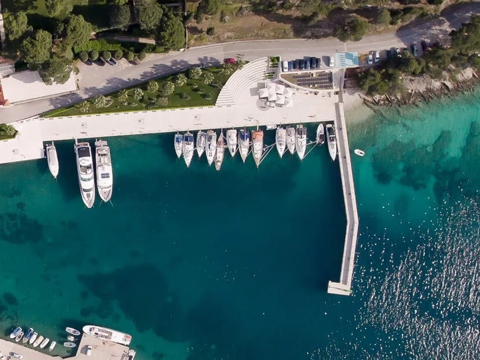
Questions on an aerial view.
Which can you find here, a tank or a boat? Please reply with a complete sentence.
The one in the frame is a boat.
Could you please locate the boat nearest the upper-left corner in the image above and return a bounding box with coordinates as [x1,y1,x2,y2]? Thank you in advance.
[46,143,59,178]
